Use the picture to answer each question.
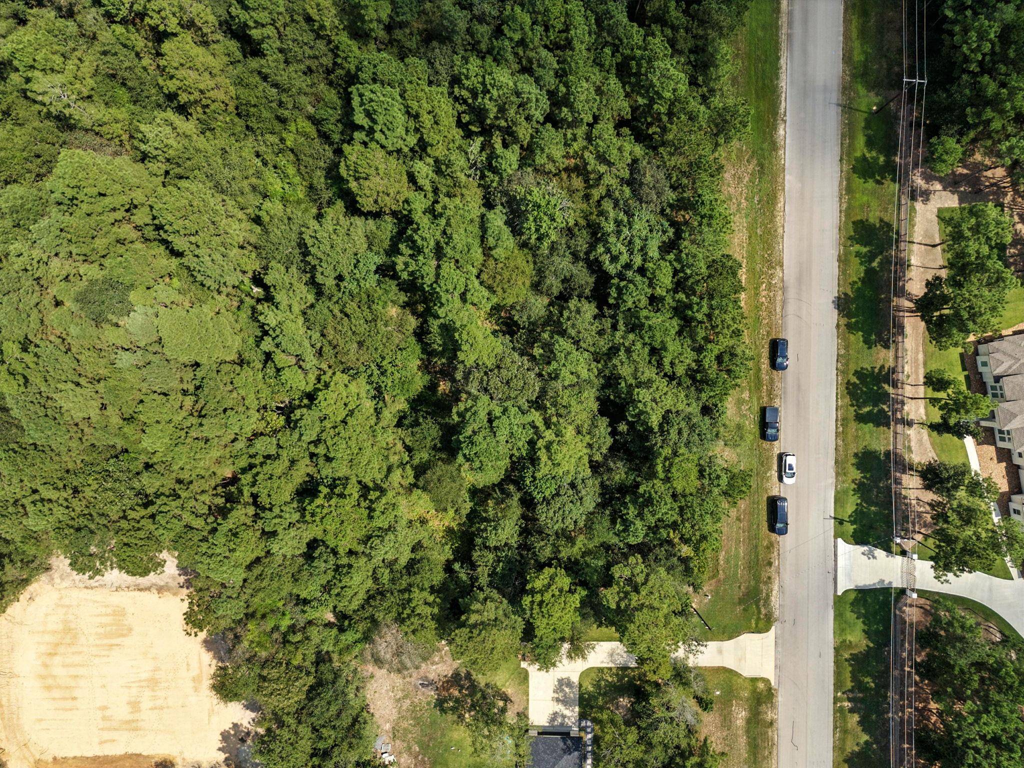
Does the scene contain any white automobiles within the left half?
No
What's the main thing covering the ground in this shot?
trees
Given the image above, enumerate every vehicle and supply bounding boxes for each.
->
[771,497,789,534]
[773,338,790,370]
[763,405,780,442]
[779,452,796,483]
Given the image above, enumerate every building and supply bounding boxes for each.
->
[976,332,1024,544]
[526,729,585,768]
